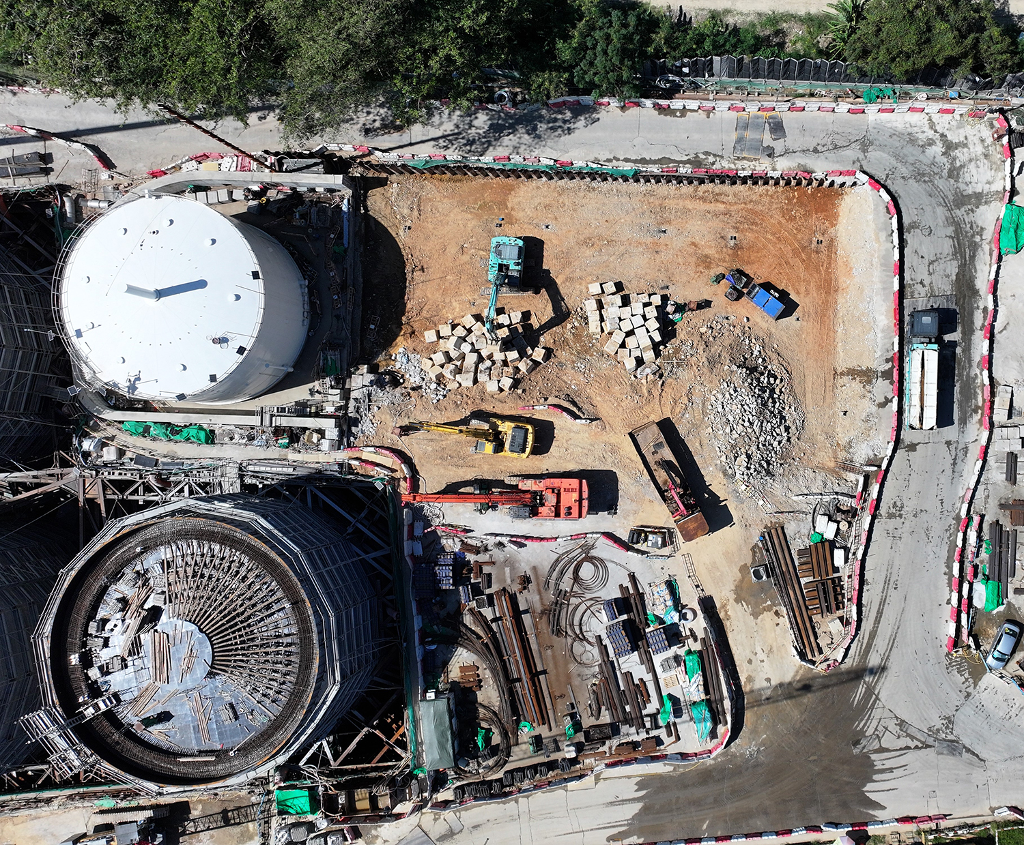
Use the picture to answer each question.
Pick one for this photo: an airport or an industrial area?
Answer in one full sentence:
The area seen from above is an industrial area.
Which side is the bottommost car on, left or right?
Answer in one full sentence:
The bottommost car is on the right side of the image.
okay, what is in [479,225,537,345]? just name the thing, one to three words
work vehicle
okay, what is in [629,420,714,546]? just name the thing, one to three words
truck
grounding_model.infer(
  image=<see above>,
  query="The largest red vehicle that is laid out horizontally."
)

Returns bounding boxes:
[397,476,587,525]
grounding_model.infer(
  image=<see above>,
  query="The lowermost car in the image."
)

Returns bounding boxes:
[985,617,1022,669]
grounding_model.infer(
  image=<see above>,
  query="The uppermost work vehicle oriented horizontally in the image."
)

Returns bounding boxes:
[390,414,541,459]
